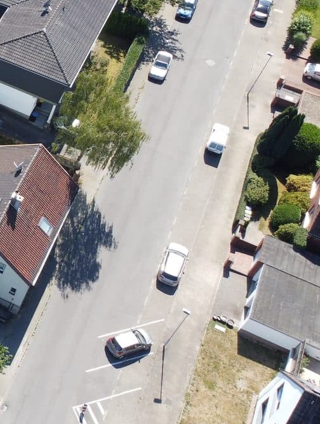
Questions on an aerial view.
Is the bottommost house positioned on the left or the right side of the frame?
right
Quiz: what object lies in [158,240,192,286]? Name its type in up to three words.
car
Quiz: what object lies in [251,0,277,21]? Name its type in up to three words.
car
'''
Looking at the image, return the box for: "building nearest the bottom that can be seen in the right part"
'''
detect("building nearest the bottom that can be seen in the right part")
[251,365,320,424]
